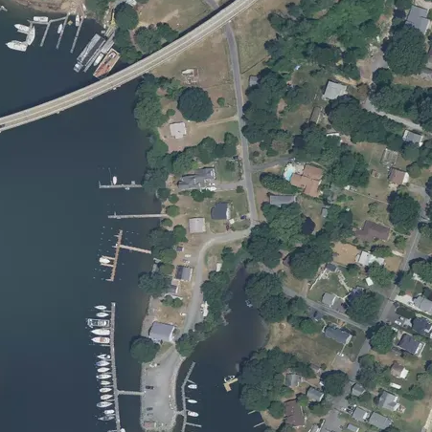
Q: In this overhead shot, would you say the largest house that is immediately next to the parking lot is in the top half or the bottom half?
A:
bottom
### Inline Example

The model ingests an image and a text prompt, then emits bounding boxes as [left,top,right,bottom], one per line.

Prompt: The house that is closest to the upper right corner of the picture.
[405,4,429,28]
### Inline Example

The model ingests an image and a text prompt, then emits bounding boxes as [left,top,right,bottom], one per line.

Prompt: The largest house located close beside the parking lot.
[147,321,175,344]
